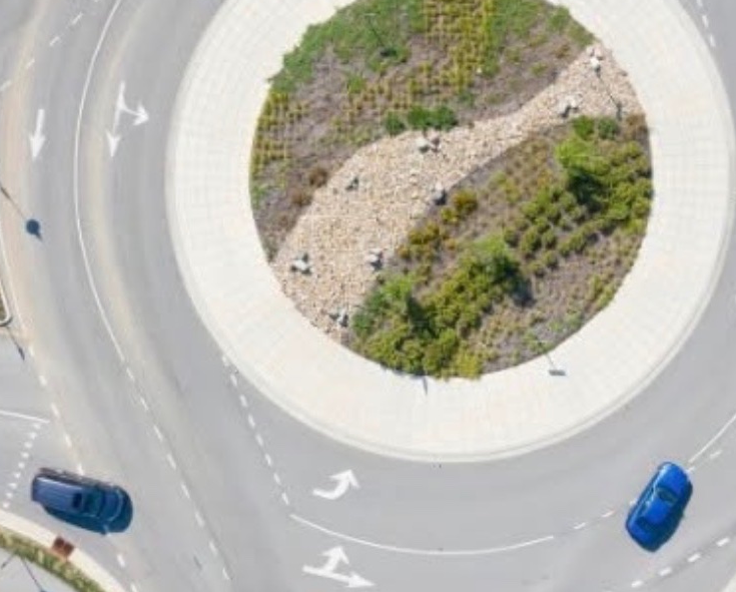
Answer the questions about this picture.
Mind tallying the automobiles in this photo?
2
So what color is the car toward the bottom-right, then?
blue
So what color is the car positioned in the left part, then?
blue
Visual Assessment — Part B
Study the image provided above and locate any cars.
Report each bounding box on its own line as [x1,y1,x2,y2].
[33,472,130,528]
[627,462,694,554]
